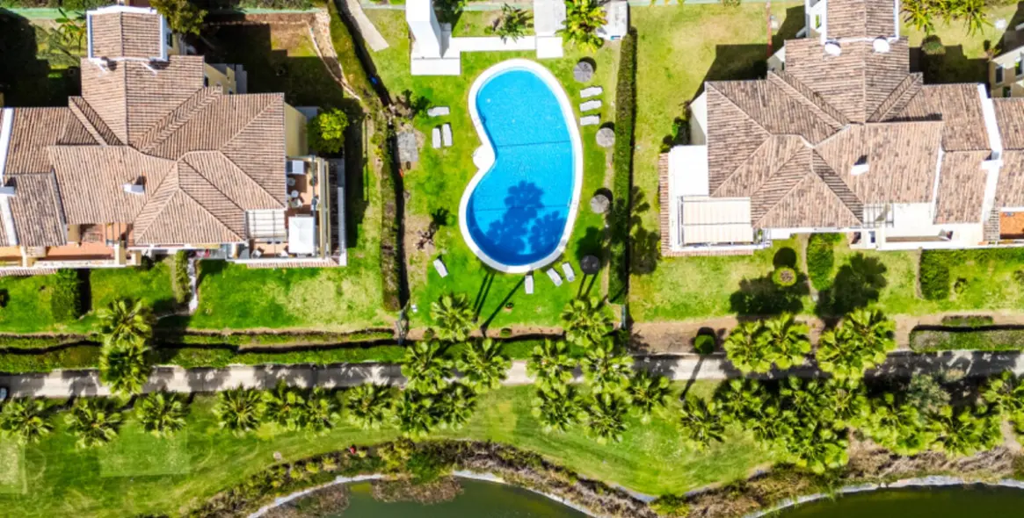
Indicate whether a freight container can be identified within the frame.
No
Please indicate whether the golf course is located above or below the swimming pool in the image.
below it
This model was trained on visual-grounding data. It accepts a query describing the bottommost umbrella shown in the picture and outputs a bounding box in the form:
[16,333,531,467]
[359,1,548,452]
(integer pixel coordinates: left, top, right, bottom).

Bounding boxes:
[579,253,601,275]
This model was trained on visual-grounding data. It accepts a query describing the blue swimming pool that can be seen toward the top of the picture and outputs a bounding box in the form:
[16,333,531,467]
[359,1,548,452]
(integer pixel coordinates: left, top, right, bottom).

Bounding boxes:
[459,58,583,272]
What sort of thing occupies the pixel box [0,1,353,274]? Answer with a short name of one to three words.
house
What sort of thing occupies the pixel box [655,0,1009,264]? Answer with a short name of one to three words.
house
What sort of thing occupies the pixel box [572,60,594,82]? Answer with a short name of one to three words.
umbrella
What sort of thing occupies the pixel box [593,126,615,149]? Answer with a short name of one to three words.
umbrella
